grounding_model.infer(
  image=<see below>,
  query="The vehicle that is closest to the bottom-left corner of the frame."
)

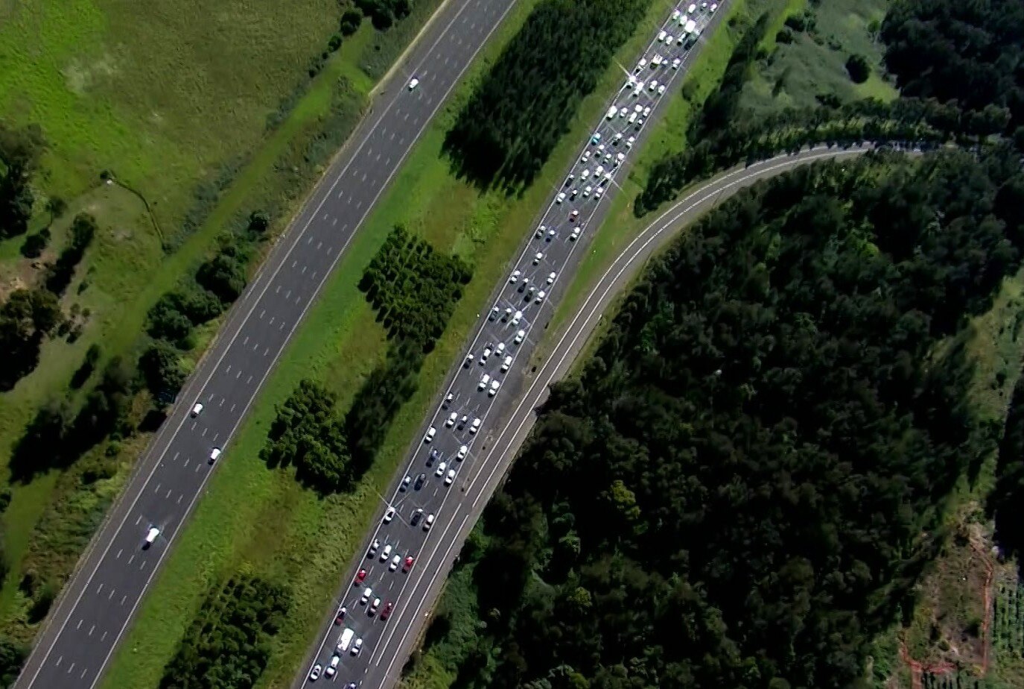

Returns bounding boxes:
[144,530,159,546]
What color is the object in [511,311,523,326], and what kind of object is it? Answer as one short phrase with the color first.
white vehicle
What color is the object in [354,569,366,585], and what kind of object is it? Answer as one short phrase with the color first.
red vehicle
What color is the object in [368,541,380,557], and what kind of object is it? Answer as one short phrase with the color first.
gray vehicle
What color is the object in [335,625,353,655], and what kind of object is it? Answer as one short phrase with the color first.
white vehicle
